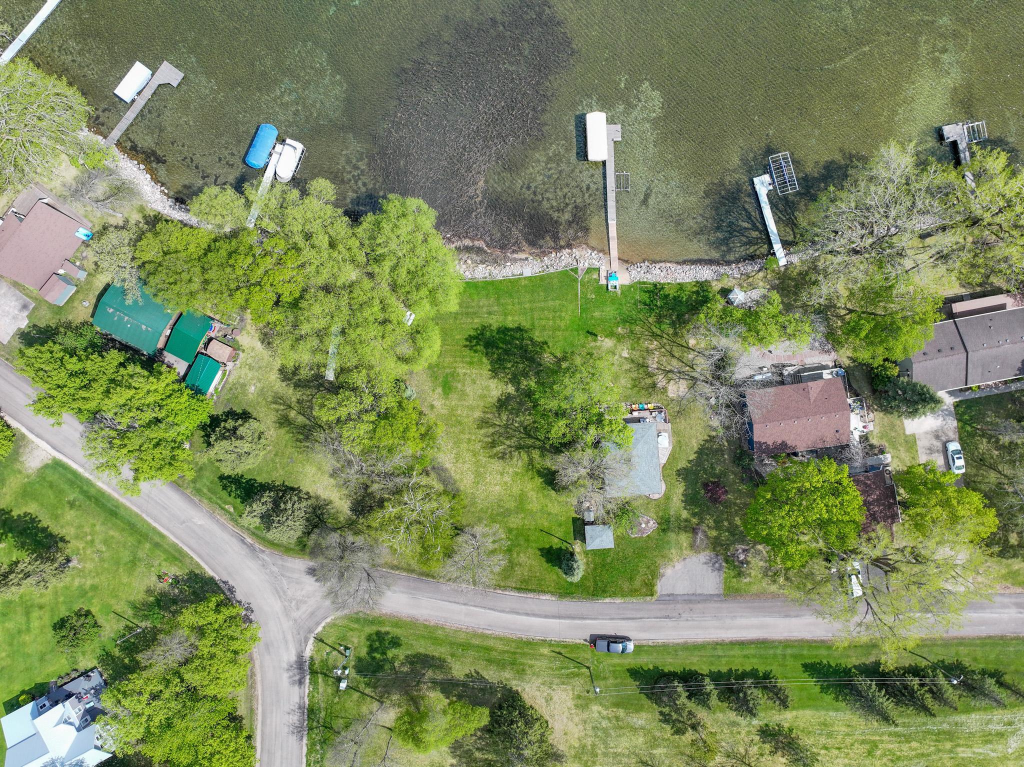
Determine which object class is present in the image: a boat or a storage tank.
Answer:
boat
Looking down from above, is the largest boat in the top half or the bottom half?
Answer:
top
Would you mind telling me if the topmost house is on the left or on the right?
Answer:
left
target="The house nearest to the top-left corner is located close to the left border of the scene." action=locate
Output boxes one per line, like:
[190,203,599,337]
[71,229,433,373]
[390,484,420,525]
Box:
[0,198,93,304]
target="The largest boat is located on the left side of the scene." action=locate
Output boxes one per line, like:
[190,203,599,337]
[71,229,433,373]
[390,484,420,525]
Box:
[278,140,308,183]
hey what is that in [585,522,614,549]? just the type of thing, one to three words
building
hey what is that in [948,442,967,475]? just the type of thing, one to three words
car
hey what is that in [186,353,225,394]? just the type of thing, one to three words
shed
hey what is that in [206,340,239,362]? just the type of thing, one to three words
shed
